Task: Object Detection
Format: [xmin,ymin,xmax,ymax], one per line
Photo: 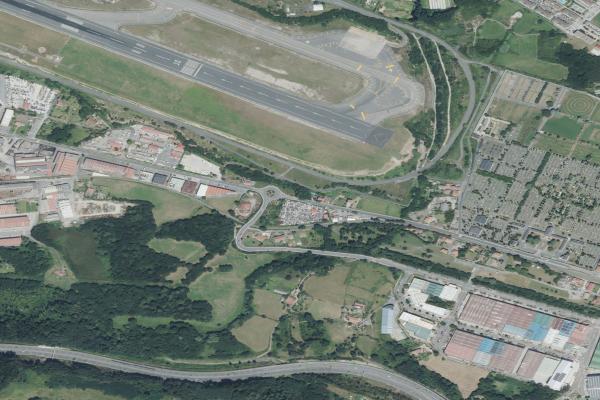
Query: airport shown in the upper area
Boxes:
[0,0,426,174]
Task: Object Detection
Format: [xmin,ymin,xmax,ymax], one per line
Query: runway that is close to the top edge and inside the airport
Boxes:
[1,0,376,143]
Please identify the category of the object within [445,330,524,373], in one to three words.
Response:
building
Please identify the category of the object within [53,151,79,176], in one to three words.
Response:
shed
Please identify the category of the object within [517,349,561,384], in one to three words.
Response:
building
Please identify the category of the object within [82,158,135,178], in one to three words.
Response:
shed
